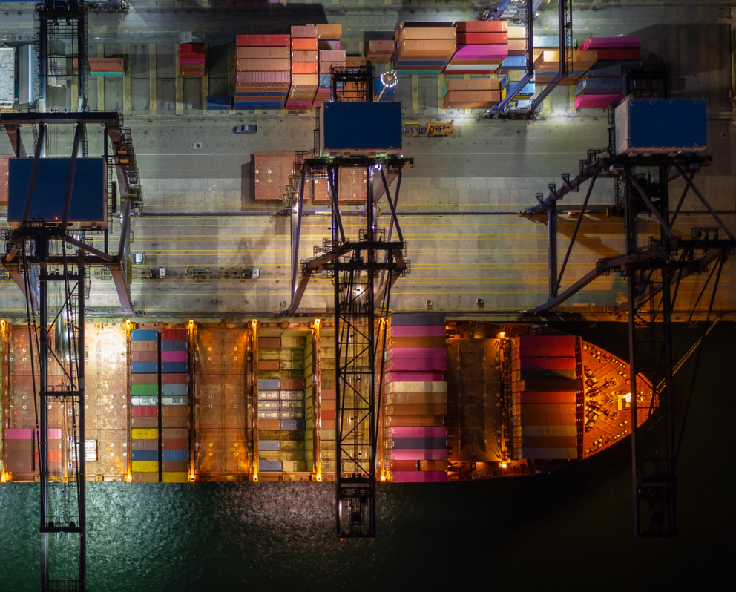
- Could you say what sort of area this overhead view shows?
port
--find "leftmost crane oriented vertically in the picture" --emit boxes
[0,0,161,592]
